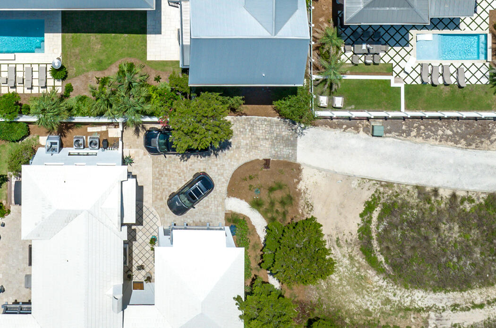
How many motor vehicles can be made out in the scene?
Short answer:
2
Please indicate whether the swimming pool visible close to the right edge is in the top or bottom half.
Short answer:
top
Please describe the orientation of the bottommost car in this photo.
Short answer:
at an angle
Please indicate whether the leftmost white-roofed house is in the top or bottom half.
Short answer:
bottom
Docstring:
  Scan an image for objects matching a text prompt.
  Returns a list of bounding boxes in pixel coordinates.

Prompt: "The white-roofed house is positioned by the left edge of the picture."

[0,146,136,328]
